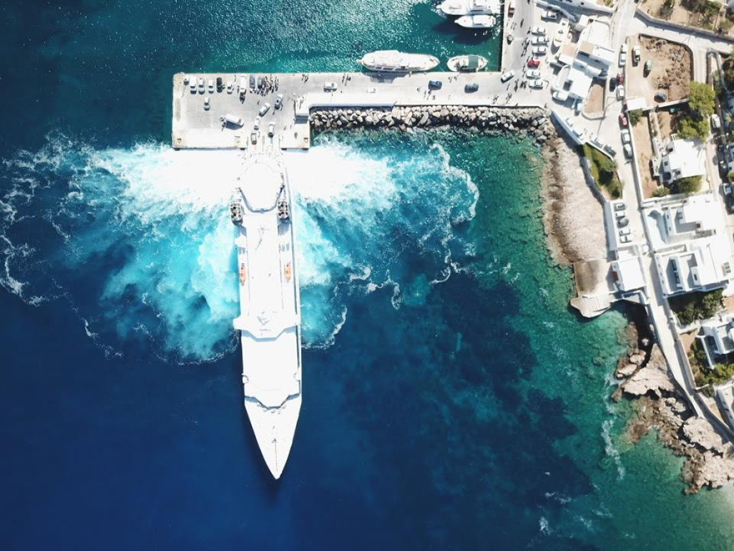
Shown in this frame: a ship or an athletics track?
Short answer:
ship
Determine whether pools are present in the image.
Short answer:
No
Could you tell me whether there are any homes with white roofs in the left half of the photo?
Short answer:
No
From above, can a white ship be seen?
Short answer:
Yes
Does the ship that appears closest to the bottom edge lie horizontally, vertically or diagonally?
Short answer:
vertically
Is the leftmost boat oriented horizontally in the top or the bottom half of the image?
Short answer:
top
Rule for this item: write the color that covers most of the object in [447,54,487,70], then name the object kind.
white boat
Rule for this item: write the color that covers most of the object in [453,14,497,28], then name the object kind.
white boat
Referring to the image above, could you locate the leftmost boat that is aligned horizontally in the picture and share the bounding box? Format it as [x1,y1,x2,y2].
[359,49,439,72]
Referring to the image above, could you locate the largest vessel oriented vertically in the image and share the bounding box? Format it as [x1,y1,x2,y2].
[231,135,301,479]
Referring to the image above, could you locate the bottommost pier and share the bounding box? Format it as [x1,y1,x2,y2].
[172,72,548,150]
